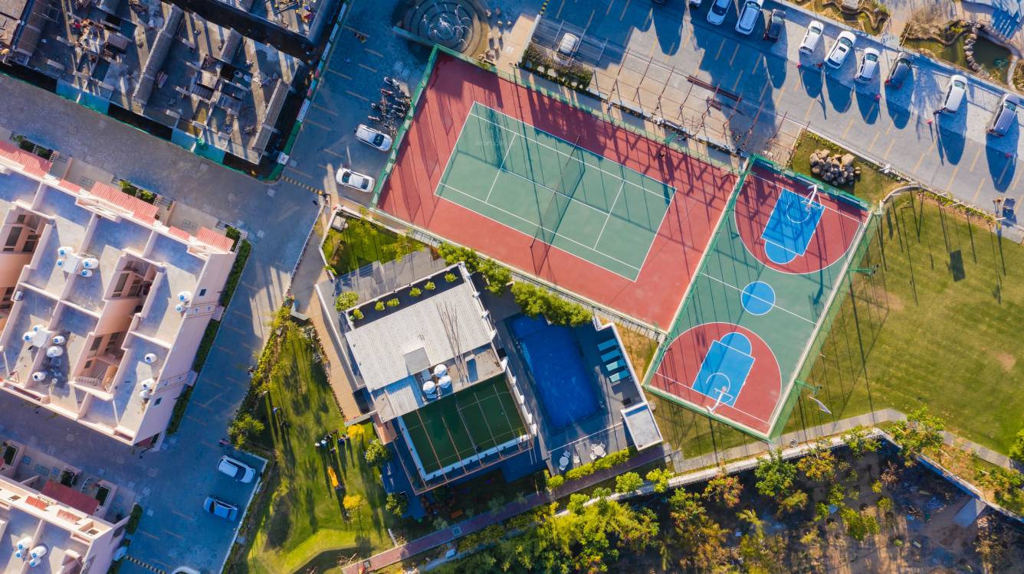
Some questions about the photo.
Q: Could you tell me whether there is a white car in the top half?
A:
Yes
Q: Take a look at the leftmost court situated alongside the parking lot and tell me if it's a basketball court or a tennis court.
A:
tennis court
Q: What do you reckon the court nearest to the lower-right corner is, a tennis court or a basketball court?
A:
basketball court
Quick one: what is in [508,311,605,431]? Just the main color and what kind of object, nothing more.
blue swimming pool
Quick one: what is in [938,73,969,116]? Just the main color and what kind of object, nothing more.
white car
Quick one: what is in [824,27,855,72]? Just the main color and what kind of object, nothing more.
white car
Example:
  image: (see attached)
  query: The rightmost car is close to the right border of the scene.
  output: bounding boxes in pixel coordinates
[985,93,1018,139]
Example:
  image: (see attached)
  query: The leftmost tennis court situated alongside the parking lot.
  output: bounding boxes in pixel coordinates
[372,52,737,334]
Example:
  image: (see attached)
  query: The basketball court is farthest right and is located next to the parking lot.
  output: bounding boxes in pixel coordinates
[643,156,875,442]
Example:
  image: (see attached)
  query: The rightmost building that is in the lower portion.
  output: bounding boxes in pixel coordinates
[618,398,663,450]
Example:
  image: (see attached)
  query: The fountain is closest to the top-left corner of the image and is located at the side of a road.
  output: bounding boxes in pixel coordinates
[395,0,485,64]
